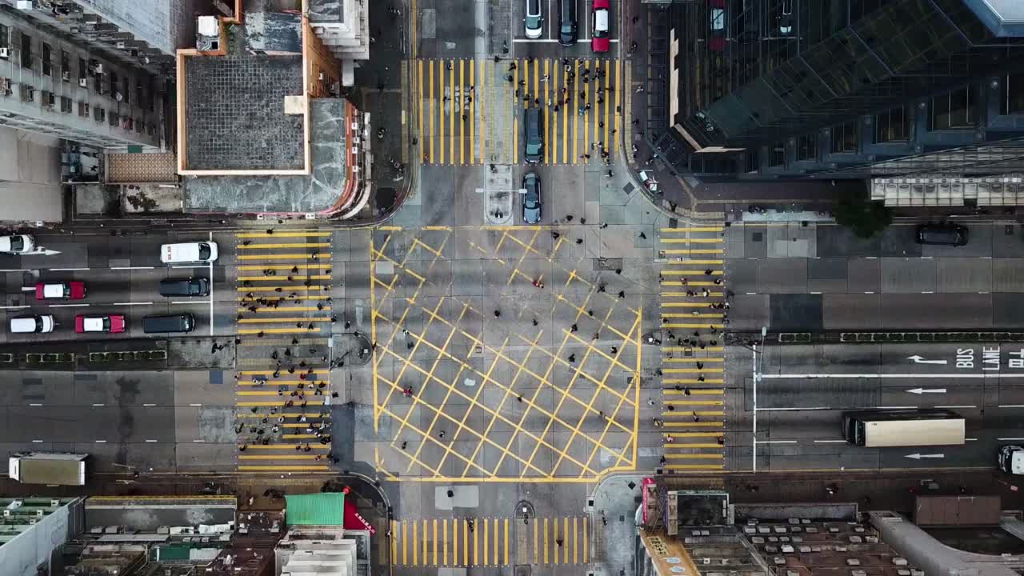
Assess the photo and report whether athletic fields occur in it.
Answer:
No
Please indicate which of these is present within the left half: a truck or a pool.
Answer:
truck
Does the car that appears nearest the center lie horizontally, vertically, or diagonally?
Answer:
vertically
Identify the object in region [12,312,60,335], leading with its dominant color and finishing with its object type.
white car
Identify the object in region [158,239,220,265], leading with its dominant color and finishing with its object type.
white vehicle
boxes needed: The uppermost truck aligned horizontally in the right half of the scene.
[838,411,966,446]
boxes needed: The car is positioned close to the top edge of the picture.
[588,0,612,54]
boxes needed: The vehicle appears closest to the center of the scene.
[519,171,544,224]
